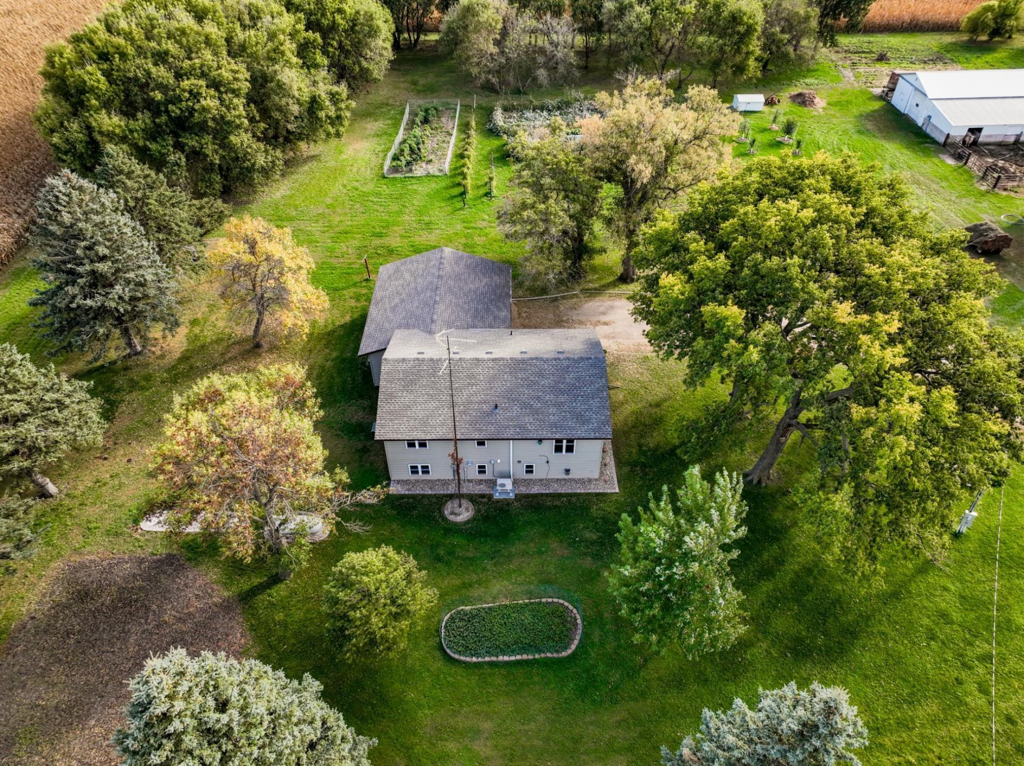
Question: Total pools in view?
0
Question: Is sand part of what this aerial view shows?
No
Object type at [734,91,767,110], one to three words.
shed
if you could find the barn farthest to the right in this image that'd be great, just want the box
[890,71,1024,146]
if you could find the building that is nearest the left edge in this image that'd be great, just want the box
[357,246,612,483]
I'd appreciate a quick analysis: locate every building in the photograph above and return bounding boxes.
[357,246,612,483]
[734,91,767,110]
[890,71,1024,146]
